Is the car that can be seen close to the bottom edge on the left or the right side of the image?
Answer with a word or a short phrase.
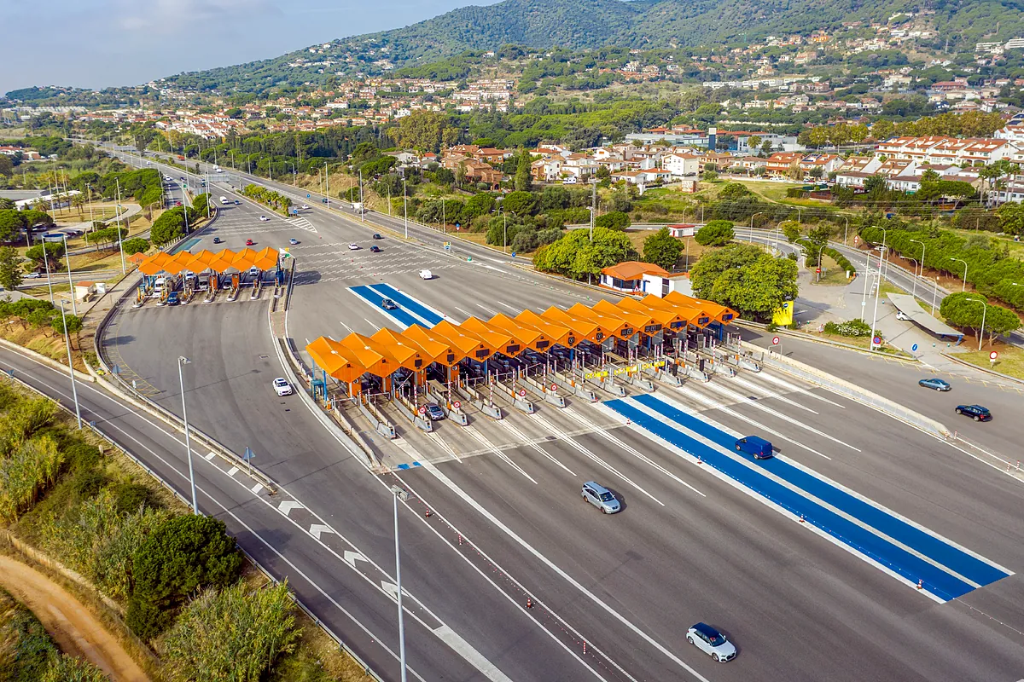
right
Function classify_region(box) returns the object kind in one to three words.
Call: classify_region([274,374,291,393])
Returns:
car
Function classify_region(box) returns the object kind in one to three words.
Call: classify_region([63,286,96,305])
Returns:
shed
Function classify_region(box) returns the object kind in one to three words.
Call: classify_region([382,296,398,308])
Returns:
vehicle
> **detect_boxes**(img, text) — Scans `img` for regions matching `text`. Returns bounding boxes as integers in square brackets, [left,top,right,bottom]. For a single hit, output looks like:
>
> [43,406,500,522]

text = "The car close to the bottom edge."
[684,619,738,659]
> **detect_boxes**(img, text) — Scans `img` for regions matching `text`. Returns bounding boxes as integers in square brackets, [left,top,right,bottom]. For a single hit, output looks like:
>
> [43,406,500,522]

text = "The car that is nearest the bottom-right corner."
[955,401,995,420]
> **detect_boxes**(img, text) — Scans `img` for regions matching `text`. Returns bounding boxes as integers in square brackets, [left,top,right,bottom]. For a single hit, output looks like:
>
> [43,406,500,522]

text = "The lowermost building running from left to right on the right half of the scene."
[591,262,684,299]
